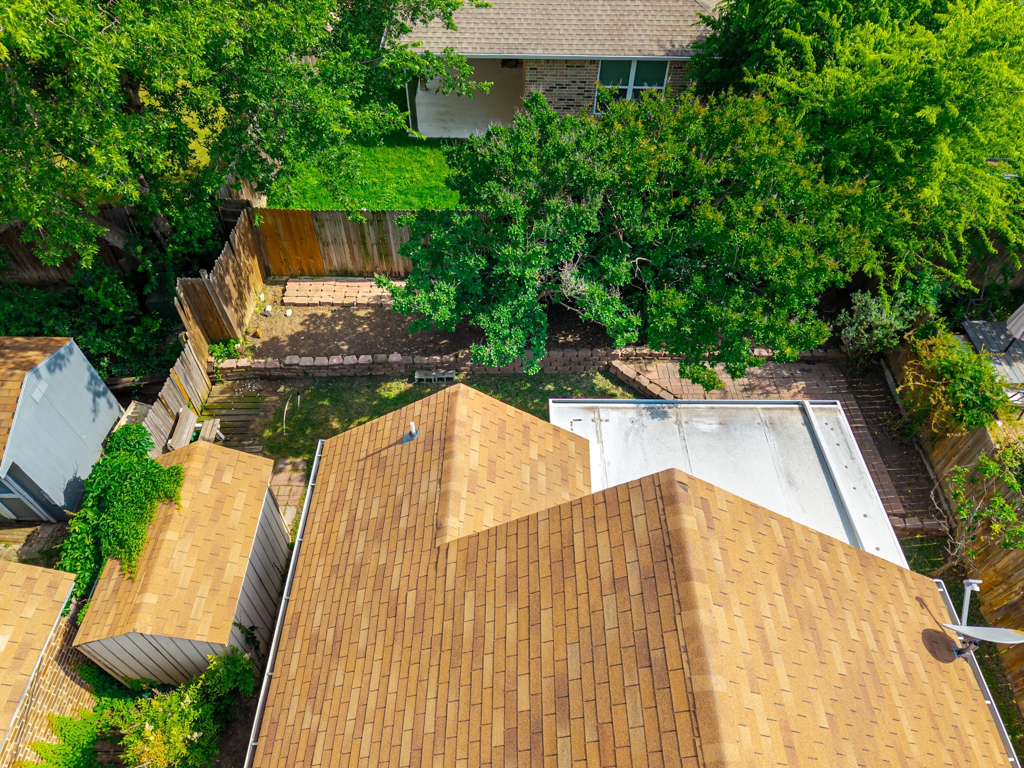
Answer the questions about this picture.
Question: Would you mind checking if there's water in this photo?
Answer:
No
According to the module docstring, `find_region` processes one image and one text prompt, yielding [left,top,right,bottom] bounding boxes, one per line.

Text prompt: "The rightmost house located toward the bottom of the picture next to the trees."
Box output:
[240,383,1024,768]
